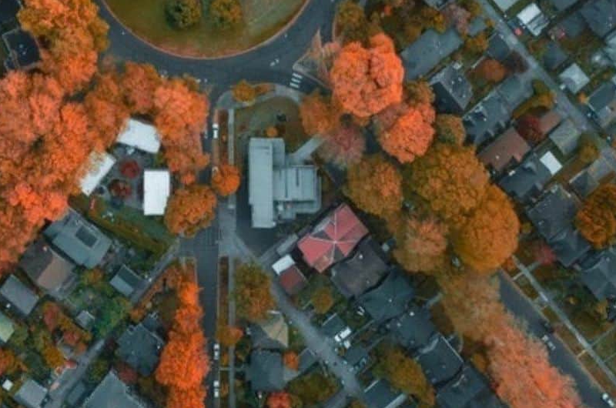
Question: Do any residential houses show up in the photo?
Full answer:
Yes, there's a residential house down there.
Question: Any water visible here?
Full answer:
No, there is no water in the image.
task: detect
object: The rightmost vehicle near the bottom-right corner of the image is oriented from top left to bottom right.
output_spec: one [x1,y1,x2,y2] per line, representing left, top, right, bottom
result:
[602,392,615,407]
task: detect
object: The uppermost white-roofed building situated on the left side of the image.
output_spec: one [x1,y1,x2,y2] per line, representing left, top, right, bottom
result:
[117,116,161,154]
